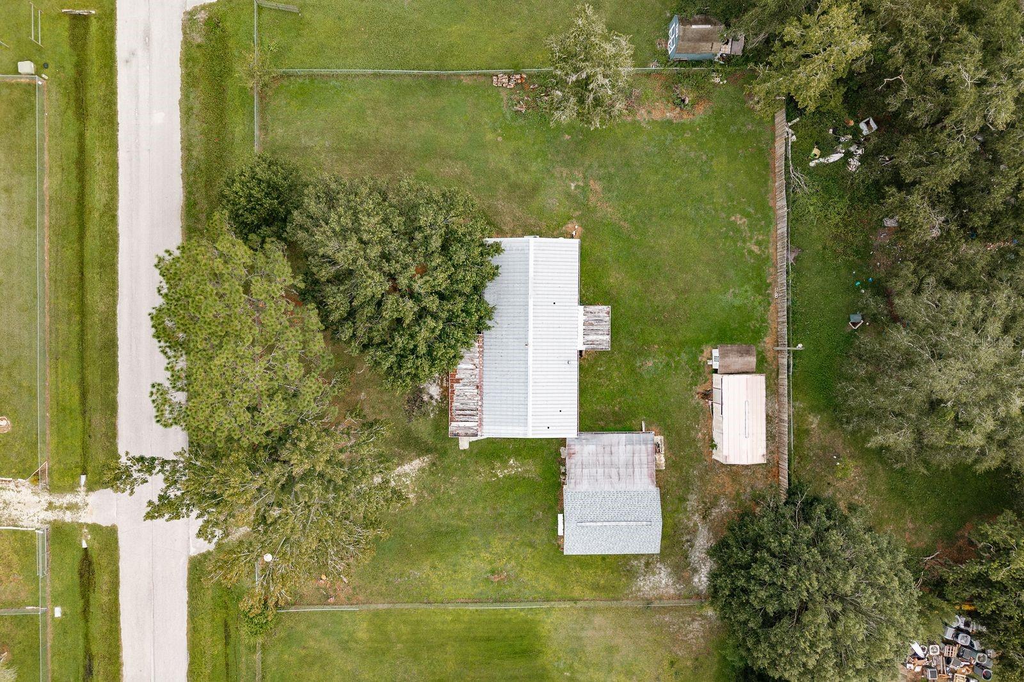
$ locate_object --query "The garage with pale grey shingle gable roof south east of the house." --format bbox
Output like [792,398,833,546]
[564,484,665,555]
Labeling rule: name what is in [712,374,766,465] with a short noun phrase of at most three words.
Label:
building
